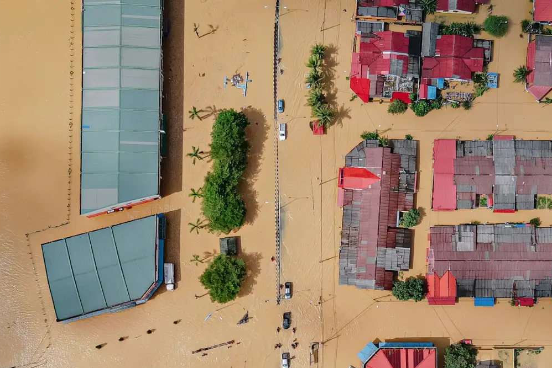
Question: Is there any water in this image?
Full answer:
Yes, water can be seen from above here.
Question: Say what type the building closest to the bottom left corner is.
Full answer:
It turns out the building closest to the bottom left corner is a warehouse.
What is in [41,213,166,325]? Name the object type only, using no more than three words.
warehouse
